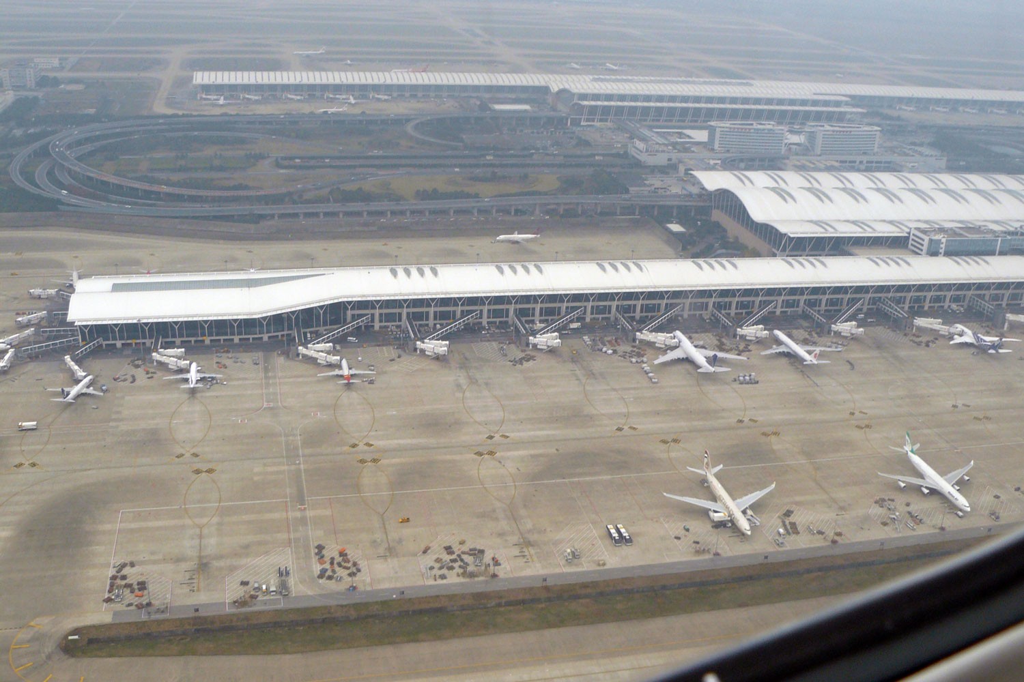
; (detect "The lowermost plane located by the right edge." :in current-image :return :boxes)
[868,427,976,510]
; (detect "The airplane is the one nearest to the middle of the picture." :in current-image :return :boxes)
[495,227,540,243]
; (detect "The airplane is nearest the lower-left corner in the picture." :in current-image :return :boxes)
[39,376,106,405]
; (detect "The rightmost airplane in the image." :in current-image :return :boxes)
[943,324,1024,354]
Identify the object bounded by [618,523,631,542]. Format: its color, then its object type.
white vehicle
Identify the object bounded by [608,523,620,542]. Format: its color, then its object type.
white vehicle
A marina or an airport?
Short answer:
airport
